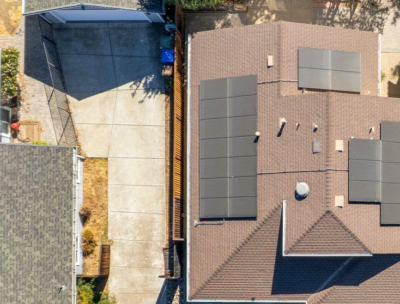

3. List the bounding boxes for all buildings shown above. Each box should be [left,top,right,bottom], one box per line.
[184,20,400,304]
[0,45,85,304]
[20,0,168,25]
